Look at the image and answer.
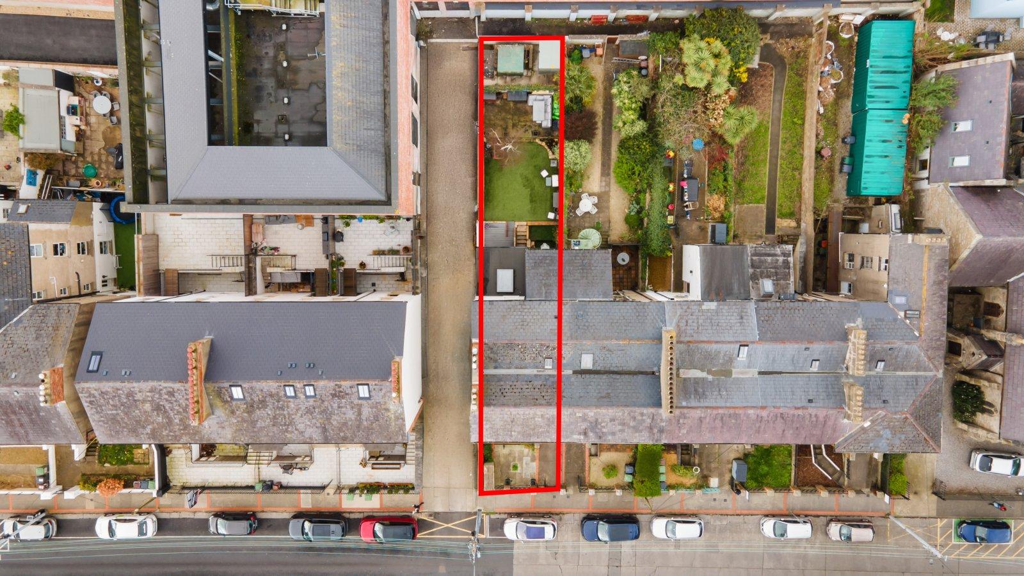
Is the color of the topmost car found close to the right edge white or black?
white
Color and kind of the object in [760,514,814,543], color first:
white car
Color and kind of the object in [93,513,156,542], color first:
white car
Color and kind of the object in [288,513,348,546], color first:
gray car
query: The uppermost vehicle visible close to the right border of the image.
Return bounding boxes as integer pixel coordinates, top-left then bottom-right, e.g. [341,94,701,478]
[969,446,1024,479]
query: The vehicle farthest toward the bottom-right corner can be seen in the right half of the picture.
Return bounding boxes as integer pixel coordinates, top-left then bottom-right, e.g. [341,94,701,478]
[955,516,1013,547]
